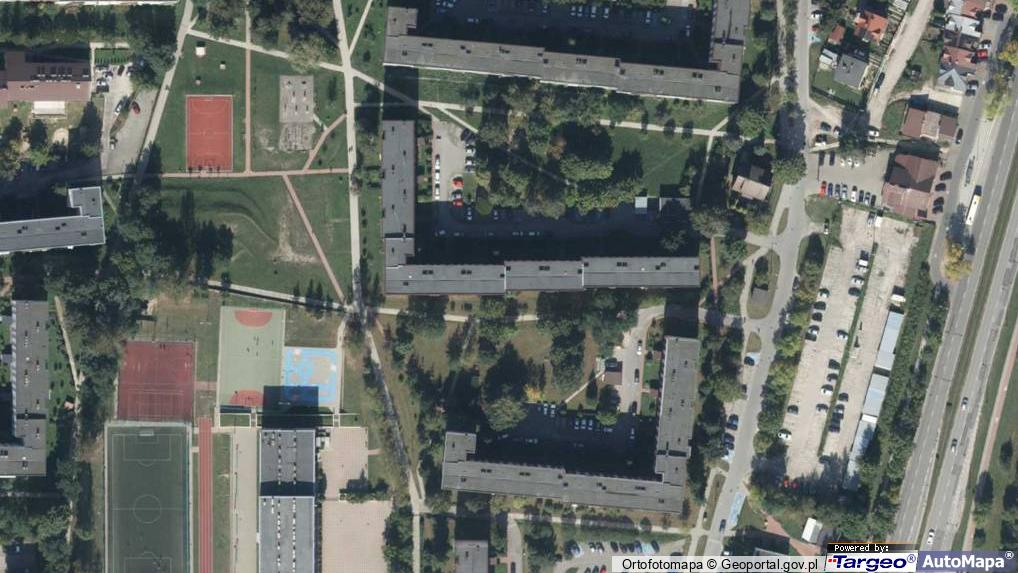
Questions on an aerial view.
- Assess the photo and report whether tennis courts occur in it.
Yes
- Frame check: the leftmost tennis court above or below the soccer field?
above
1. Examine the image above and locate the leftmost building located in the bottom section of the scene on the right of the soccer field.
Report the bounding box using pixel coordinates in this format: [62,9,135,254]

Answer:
[256,430,322,573]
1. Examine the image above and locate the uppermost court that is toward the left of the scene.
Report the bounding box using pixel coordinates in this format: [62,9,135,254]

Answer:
[186,95,233,171]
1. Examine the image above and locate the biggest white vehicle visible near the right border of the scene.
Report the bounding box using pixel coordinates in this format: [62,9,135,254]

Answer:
[967,194,981,225]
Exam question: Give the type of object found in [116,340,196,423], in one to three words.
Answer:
tennis court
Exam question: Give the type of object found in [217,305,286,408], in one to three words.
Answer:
sports court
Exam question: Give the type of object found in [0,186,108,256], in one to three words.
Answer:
building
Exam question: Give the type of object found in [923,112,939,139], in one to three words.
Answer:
house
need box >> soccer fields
[104,420,192,573]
